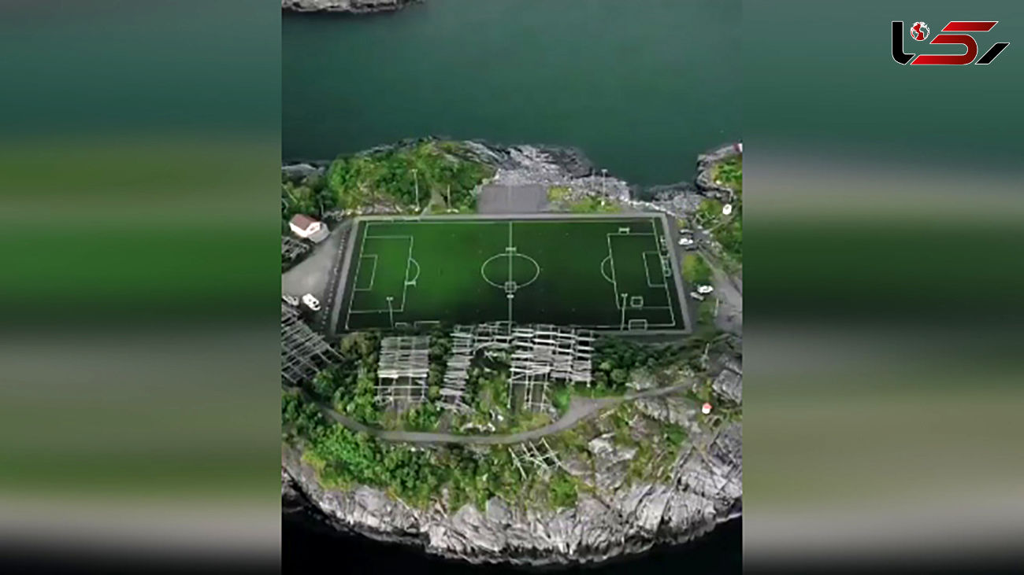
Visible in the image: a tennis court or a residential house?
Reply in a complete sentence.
Visible in the photo is a residential house.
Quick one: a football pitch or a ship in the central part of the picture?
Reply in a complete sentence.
It is a football pitch that can be seen in the central part of the picture.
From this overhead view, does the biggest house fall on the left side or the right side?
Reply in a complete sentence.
The biggest house sits on the left side.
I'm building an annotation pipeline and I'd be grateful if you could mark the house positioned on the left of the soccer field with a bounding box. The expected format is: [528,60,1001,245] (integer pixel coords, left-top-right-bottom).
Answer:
[289,211,327,241]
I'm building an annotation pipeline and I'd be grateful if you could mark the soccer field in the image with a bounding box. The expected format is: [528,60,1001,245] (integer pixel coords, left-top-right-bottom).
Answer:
[328,213,691,335]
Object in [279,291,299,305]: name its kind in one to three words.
vehicle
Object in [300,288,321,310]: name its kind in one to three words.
camper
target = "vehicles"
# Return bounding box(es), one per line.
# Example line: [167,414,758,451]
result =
[697,285,714,295]
[679,240,694,246]
[685,245,699,252]
[300,288,321,310]
[279,291,299,305]
[689,292,706,301]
